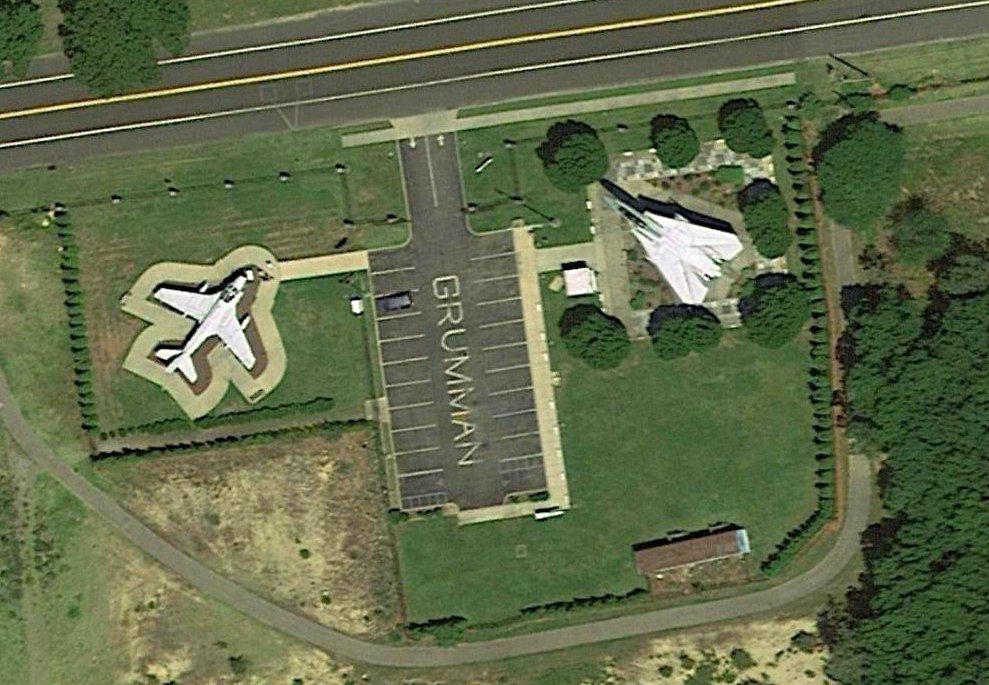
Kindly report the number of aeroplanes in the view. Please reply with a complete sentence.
The photo contains 2 aeroplanes.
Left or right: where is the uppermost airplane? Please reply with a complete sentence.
The uppermost airplane is on the right side of the image.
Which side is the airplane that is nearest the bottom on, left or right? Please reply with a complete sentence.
The airplane that is nearest the bottom appears in the left half of the scene.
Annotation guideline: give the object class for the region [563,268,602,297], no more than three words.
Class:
shed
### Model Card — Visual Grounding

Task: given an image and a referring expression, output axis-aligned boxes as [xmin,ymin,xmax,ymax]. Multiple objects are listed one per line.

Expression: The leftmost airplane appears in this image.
[153,275,253,382]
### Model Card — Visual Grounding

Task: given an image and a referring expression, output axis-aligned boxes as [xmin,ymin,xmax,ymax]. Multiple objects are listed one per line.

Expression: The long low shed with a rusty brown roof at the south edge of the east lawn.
[635,530,751,574]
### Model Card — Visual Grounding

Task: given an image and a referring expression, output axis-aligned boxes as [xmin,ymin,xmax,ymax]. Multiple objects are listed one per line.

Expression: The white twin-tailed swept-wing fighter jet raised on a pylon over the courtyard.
[604,197,742,305]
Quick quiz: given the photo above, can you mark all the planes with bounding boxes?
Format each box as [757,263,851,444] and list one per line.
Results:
[153,275,253,382]
[604,197,742,305]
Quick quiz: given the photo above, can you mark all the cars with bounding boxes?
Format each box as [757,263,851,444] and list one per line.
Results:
[377,293,414,311]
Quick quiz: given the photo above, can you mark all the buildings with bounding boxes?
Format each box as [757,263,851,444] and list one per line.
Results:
[563,268,602,297]
[635,530,751,574]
